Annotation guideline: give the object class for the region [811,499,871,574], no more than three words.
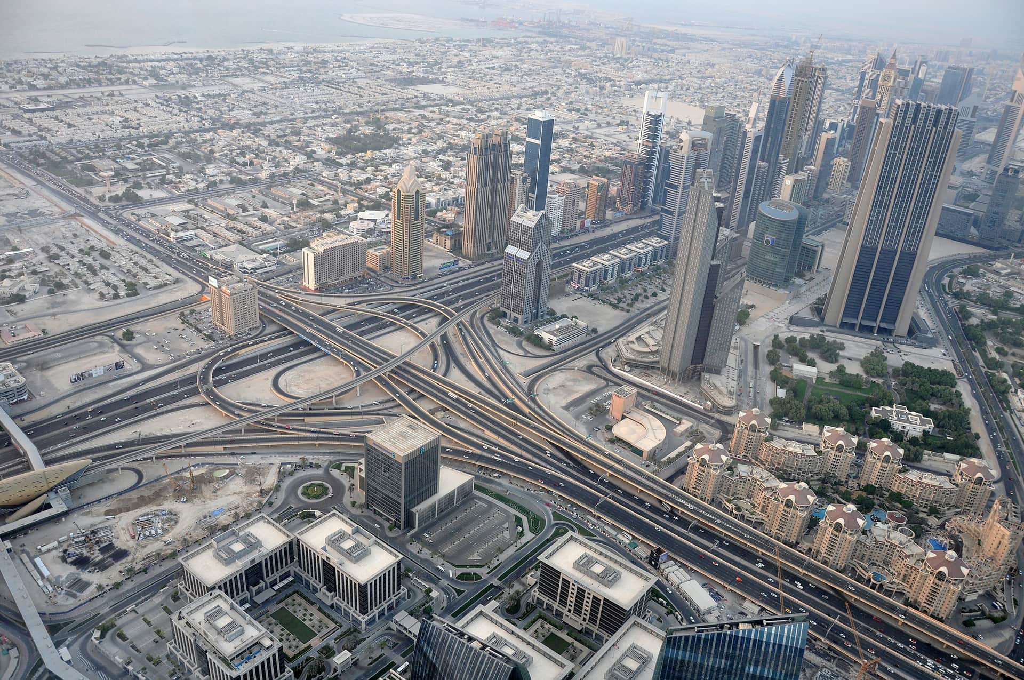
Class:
building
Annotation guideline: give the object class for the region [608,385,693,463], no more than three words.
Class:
building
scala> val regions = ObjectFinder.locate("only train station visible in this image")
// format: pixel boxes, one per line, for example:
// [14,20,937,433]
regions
[0,458,91,521]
